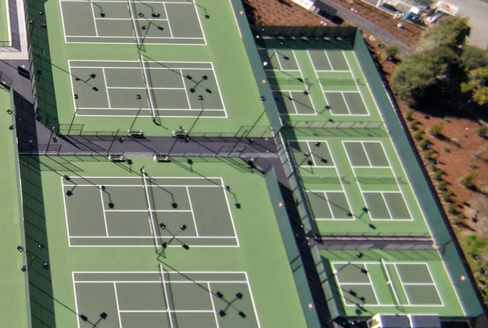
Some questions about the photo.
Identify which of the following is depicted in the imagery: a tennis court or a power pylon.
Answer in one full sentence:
I can see a tennis court in this picture.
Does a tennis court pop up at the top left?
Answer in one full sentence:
Yes, a tennis court appears at the top left.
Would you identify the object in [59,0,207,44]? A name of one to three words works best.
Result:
tennis court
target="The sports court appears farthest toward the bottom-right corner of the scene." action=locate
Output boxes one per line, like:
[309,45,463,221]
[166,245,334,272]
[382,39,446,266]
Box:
[330,262,446,307]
